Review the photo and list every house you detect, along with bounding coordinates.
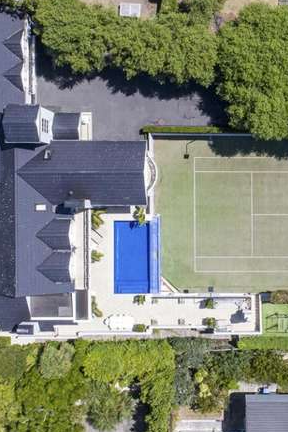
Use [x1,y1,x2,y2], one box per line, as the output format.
[0,7,162,345]
[180,370,288,432]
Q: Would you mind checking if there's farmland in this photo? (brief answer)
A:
No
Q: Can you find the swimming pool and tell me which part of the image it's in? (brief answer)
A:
center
